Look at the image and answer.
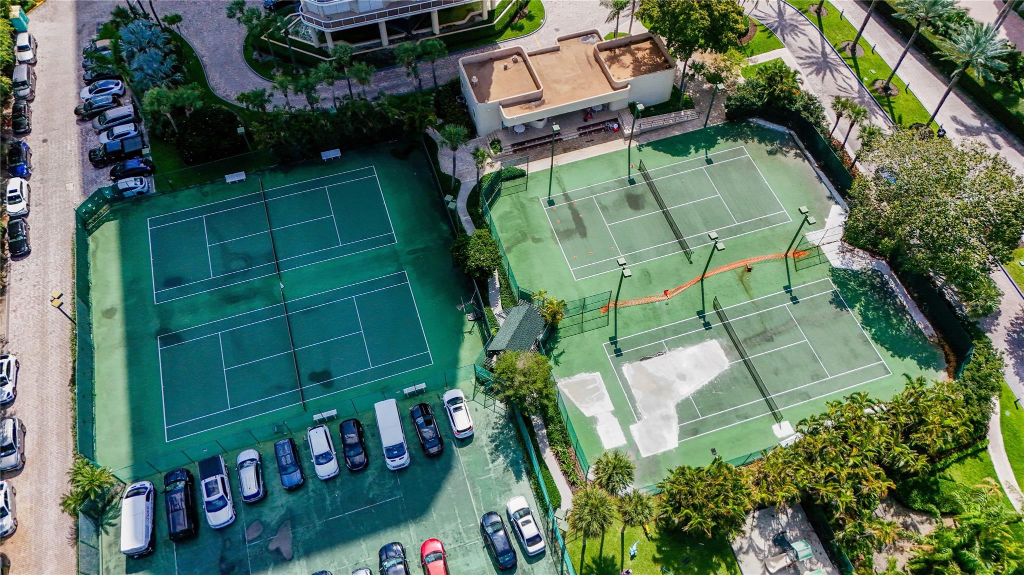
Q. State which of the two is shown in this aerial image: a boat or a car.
car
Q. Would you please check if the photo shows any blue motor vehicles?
Yes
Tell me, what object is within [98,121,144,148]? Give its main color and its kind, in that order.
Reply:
blue car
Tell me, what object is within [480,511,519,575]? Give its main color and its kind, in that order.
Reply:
blue car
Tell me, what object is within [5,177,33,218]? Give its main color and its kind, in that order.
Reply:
white car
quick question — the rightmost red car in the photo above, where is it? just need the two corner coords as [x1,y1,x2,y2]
[421,536,453,575]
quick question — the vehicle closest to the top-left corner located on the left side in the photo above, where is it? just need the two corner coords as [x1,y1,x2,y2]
[13,30,39,64]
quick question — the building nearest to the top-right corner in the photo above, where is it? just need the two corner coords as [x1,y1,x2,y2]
[460,29,676,137]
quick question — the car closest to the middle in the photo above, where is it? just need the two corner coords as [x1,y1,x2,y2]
[443,389,476,443]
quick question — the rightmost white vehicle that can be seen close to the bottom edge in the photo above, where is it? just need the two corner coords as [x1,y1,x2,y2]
[507,497,546,559]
